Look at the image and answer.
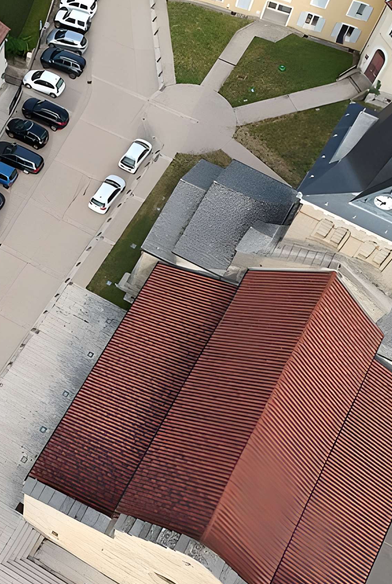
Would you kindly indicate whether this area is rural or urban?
urban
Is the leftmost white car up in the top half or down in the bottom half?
top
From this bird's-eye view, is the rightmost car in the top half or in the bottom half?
top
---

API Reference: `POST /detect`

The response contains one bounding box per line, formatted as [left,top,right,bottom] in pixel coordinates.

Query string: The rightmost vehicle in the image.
[115,138,155,176]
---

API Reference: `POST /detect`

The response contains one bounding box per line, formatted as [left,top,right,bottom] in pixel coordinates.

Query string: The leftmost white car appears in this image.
[21,71,67,99]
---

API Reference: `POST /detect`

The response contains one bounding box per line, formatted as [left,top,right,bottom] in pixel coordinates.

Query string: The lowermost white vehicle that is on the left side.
[85,174,127,216]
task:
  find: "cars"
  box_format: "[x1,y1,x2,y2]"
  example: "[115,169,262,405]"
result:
[53,8,95,34]
[20,101,71,130]
[4,120,50,149]
[59,0,98,18]
[45,30,89,55]
[0,163,20,189]
[0,143,46,175]
[85,174,127,216]
[115,138,155,176]
[21,71,67,99]
[39,48,87,77]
